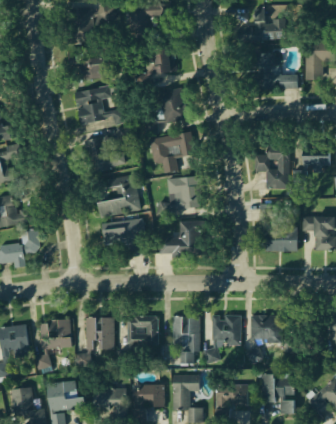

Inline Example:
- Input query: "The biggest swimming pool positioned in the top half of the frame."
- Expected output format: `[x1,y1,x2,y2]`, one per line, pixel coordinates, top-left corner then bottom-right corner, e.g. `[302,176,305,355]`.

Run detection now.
[280,46,302,74]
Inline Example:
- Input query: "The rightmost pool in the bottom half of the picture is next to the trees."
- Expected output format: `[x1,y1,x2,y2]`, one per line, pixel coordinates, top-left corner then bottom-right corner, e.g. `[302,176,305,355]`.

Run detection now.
[195,370,214,400]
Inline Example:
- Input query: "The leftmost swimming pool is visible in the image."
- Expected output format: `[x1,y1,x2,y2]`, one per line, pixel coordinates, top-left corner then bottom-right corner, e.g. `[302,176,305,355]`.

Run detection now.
[135,370,160,384]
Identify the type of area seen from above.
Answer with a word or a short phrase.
residential area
